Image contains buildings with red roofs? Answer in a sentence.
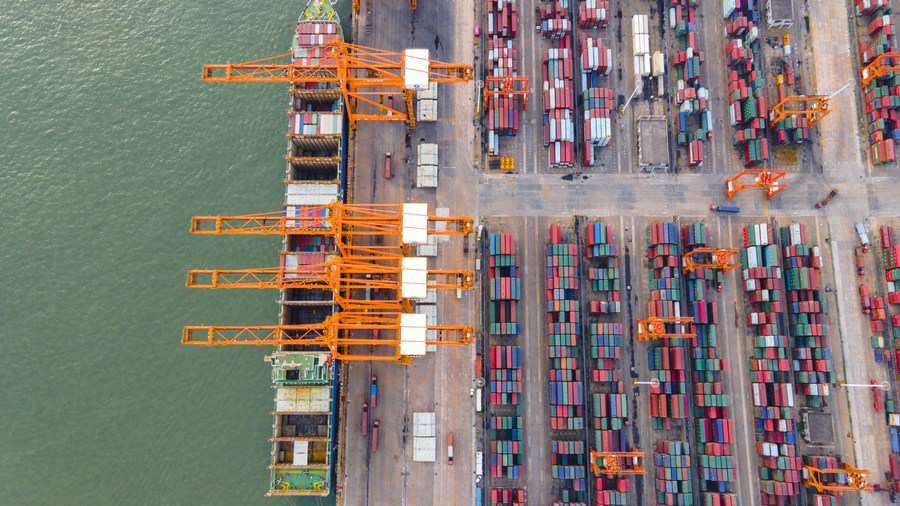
No, I can't see a single building with a red roof in this photo.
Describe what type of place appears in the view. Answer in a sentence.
The picture captures a port.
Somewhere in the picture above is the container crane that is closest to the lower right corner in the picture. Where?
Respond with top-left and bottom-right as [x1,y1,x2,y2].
[796,459,873,490]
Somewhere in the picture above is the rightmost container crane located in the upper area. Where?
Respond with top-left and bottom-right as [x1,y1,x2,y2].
[846,57,900,97]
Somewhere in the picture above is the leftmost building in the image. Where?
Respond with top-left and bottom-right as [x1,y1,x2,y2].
[635,118,668,172]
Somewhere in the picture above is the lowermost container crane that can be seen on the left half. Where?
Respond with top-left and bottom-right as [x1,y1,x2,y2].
[182,311,475,366]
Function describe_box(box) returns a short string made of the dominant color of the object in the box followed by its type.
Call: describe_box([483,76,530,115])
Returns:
red container crane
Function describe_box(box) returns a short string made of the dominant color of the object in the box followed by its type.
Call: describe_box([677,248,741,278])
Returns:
orange container crane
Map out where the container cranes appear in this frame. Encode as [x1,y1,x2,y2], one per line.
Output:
[677,248,741,278]
[200,39,473,125]
[634,317,695,343]
[182,311,475,366]
[185,256,474,314]
[796,459,873,490]
[586,445,646,474]
[190,199,474,258]
[846,57,900,97]
[724,170,789,204]
[764,95,830,133]
[483,76,530,115]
